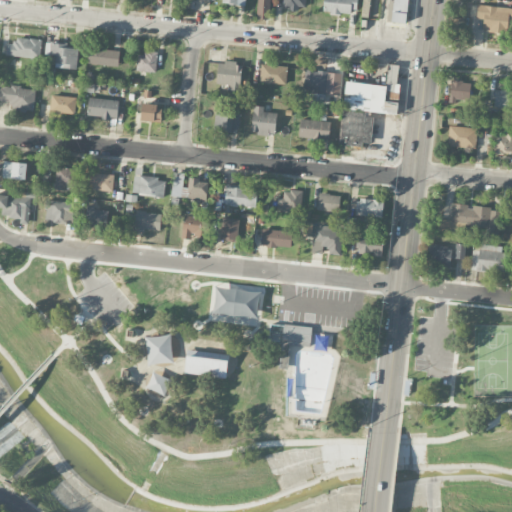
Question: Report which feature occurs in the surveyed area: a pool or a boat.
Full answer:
I can see a pool in this picture.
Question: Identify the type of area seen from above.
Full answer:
This image shows a residential area.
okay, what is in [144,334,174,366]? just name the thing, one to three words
building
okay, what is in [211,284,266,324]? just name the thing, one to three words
building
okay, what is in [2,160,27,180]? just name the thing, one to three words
house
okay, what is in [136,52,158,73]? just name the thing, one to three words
house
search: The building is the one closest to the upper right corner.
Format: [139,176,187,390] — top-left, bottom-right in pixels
[478,3,512,32]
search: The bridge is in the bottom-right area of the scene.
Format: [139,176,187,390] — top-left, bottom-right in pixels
[359,432,401,512]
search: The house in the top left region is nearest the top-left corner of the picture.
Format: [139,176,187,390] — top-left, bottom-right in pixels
[10,37,42,58]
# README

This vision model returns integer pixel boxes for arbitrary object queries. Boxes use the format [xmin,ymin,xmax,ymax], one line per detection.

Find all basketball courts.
[474,324,512,397]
